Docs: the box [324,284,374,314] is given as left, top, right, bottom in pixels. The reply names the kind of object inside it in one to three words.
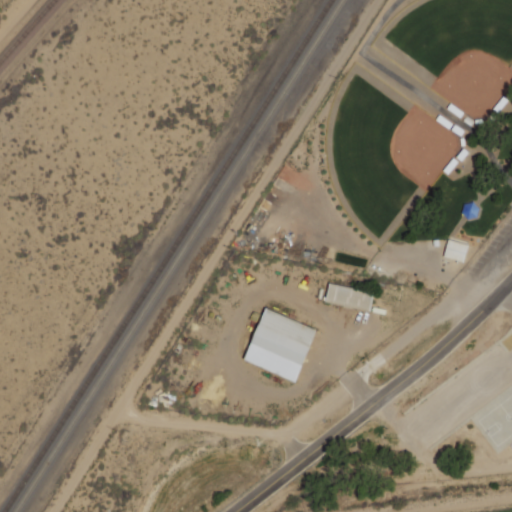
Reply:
shed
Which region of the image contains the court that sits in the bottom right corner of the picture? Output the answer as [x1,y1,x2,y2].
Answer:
[472,392,512,454]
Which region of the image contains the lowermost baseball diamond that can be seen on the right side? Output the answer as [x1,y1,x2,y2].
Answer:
[328,63,462,244]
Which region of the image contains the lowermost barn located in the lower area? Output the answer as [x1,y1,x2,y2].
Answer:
[244,308,317,380]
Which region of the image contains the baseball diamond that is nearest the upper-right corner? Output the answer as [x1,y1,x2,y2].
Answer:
[371,0,512,119]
